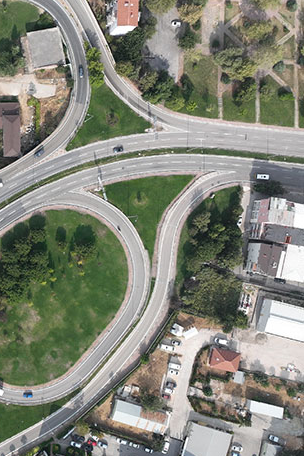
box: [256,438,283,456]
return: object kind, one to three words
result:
shed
